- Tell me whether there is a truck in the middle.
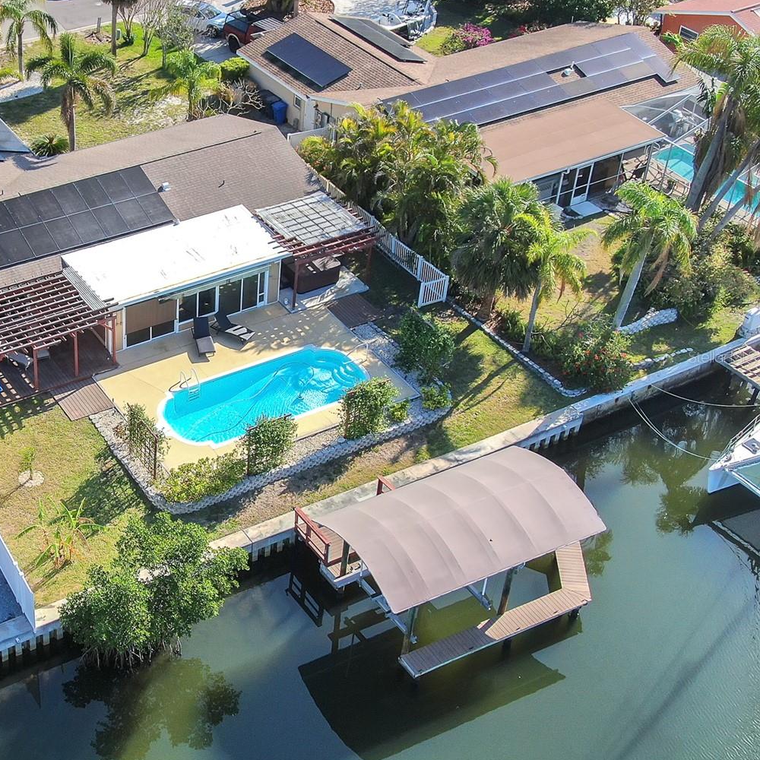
No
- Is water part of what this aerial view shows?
Yes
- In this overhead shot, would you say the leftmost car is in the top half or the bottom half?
top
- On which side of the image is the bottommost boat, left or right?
right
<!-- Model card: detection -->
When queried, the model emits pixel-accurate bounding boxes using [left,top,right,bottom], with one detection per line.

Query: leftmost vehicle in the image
[169,0,228,31]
